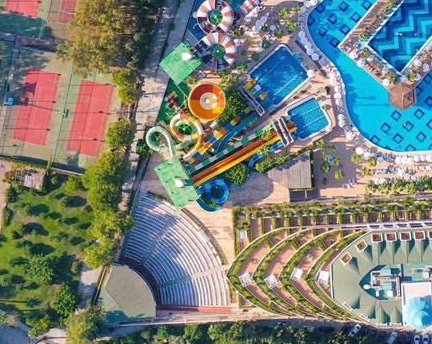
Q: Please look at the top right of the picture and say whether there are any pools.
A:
Yes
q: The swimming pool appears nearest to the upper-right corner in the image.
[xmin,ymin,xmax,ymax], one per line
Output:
[366,0,432,75]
